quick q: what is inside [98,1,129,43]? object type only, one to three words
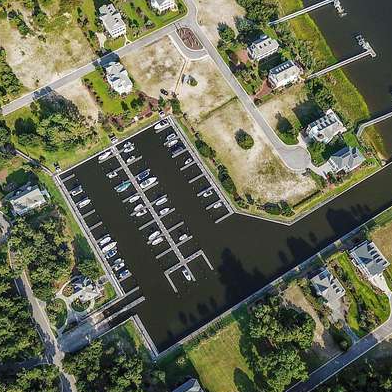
house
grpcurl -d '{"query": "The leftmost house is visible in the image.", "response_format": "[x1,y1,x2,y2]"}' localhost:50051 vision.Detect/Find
[3,182,51,216]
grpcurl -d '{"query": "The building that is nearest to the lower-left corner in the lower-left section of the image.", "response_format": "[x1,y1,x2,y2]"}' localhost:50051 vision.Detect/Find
[70,272,109,304]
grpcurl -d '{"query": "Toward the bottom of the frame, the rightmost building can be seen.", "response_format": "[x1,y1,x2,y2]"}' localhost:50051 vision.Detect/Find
[345,238,387,275]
